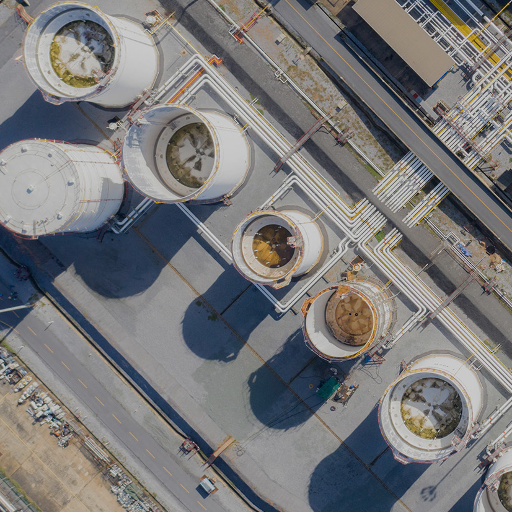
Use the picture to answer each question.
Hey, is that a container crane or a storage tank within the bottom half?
storage tank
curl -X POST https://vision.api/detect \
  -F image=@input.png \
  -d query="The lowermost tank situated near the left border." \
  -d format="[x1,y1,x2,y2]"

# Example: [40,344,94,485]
[0,139,129,235]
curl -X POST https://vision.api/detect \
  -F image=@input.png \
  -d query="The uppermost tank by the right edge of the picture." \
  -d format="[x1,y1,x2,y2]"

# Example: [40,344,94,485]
[373,349,488,470]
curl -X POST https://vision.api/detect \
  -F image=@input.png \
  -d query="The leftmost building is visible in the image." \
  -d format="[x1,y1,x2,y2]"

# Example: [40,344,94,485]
[196,471,219,498]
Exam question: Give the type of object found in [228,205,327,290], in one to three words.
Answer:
storage tank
